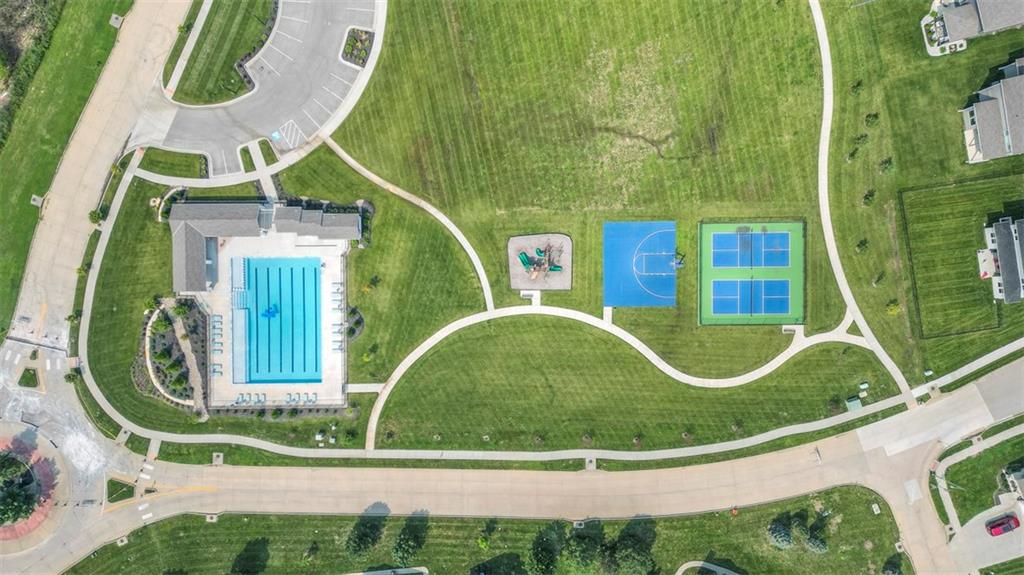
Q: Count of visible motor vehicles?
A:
1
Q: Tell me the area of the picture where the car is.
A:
bottom right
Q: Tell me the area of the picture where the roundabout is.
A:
bottom left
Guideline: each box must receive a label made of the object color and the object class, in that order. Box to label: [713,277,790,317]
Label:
blue sports court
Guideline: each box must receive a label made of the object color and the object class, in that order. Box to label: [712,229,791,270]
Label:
blue sports court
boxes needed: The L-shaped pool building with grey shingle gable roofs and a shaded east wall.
[167,204,264,292]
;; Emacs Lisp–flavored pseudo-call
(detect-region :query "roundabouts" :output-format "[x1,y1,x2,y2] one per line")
[0,420,72,557]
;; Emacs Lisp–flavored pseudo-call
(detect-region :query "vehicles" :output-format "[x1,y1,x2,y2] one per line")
[987,515,1020,535]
